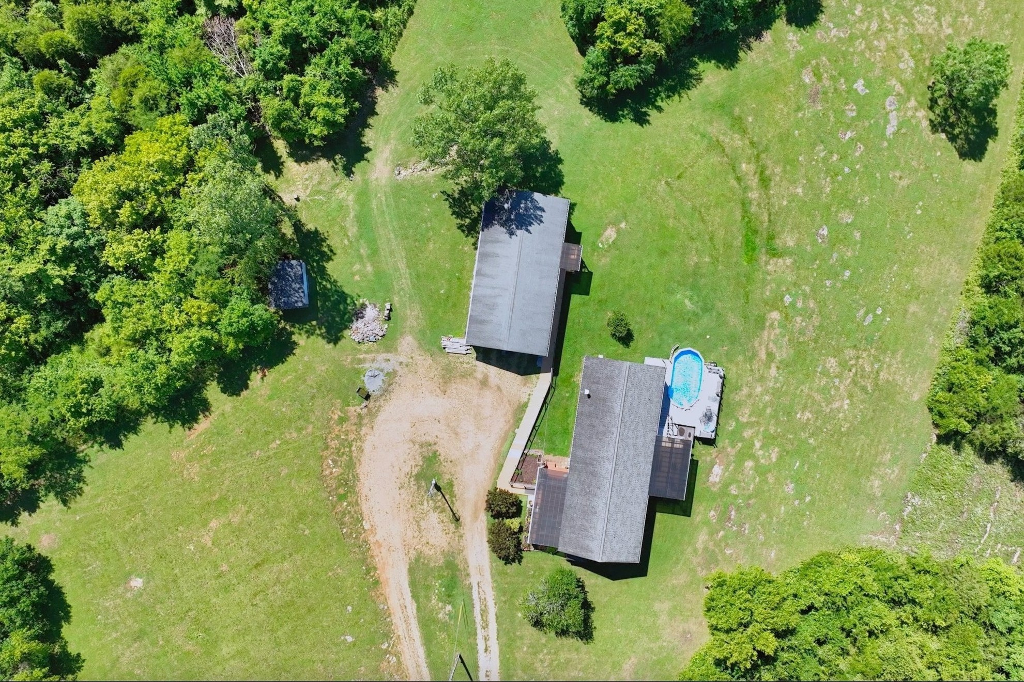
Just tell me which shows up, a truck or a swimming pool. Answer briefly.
swimming pool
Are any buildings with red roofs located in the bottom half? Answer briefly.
No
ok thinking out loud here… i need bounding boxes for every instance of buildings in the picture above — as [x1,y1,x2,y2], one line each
[273,260,313,309]
[464,189,583,356]
[527,356,693,563]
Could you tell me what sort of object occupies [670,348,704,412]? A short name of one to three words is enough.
swimming pool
